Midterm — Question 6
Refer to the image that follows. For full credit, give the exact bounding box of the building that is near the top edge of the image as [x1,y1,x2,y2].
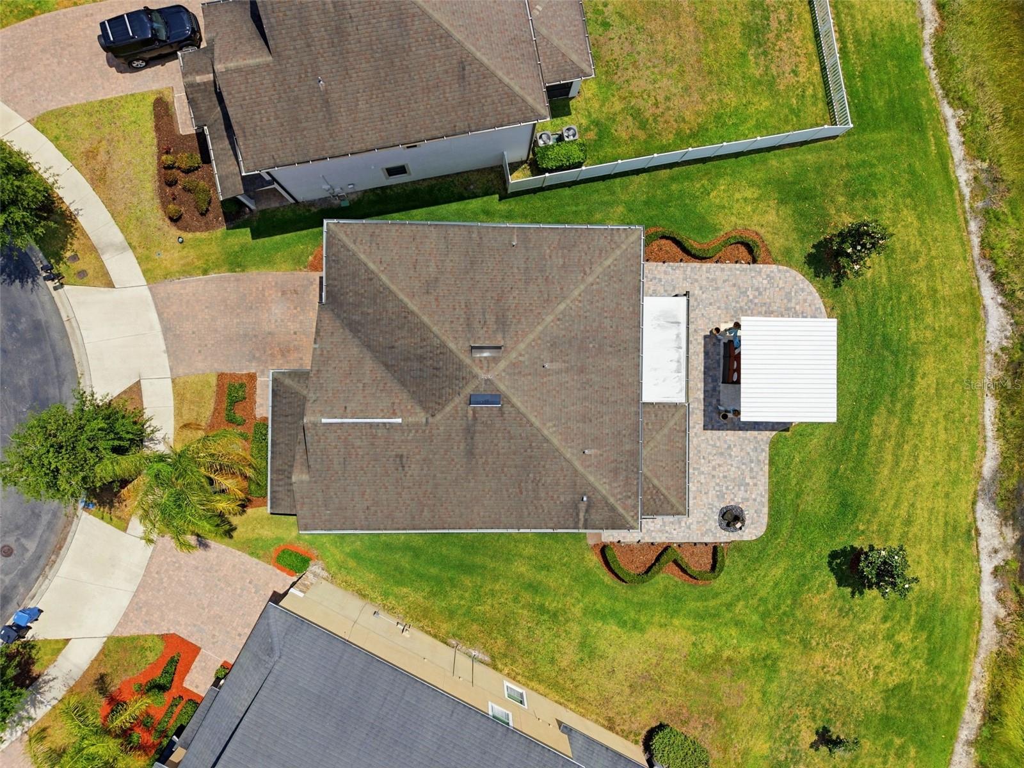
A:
[177,0,597,212]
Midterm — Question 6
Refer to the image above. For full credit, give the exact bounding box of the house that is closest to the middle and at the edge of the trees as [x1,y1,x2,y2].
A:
[268,219,689,535]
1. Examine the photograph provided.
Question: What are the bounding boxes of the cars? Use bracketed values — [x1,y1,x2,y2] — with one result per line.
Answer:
[95,0,203,69]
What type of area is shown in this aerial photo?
residential area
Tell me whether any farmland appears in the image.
No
